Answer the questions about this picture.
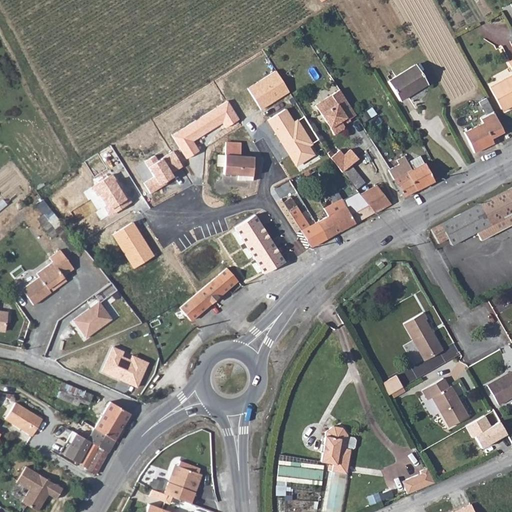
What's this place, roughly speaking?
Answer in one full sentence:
This image shows a residential area.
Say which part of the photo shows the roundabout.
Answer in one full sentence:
You can find the roundabout in the bottom area of the picture.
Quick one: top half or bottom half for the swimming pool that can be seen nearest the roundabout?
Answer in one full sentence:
The swimming pool that can be seen nearest the roundabout sits in the bottom half of the picture.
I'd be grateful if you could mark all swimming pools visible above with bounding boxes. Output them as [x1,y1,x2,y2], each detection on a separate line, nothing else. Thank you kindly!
[322,472,348,512]
[10,266,24,280]
[308,66,320,80]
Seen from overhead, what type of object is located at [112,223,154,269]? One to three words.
house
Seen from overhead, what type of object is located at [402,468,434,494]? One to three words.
building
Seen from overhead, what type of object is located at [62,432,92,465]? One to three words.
barn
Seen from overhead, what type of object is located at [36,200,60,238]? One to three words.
shed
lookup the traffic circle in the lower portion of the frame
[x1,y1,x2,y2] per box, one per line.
[196,343,265,412]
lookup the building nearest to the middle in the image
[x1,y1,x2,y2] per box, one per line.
[233,215,286,275]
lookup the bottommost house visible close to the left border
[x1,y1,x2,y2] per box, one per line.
[17,468,62,511]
